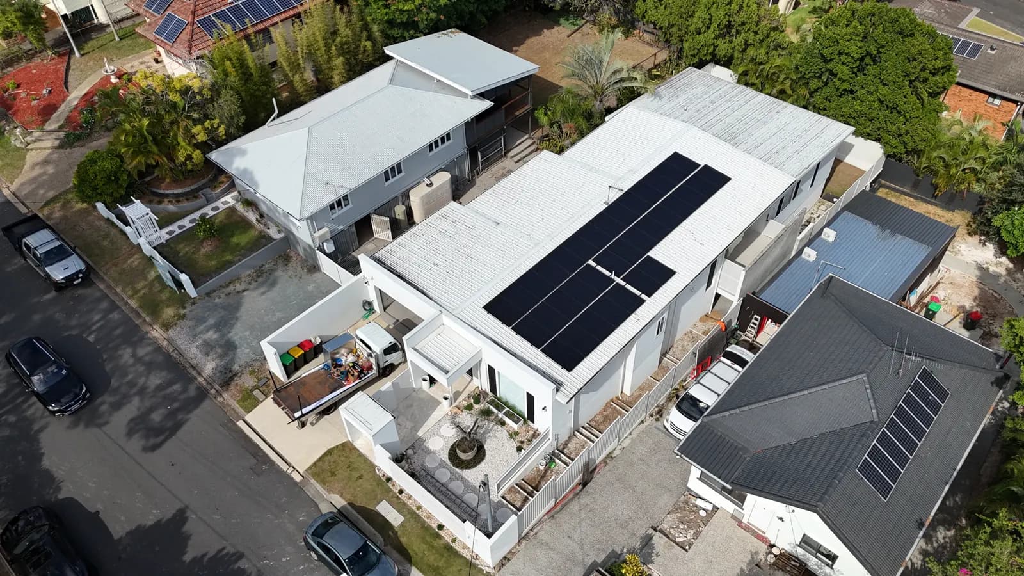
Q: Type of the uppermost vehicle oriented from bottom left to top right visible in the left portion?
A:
truck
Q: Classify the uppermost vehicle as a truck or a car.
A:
truck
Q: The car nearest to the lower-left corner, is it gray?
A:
No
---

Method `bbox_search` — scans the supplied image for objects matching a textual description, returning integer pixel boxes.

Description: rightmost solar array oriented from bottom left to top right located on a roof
[862,357,959,492]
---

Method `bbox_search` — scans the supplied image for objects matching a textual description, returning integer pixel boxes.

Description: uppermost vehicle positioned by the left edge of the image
[4,217,88,290]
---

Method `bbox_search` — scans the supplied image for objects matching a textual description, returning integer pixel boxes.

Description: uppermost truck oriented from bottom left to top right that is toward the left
[265,315,403,425]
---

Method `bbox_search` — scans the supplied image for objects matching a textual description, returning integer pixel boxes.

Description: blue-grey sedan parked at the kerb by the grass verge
[301,513,399,576]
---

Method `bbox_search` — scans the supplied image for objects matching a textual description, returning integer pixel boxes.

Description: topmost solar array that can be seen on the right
[920,27,984,59]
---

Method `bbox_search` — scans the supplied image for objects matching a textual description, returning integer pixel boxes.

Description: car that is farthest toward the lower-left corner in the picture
[1,507,90,576]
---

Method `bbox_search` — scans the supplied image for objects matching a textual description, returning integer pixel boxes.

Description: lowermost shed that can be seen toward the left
[337,390,402,457]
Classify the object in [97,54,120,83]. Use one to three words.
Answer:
fountain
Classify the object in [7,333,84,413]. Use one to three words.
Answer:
car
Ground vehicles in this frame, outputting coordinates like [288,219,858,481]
[7,333,84,413]
[4,217,88,290]
[665,346,751,440]
[301,513,399,576]
[1,507,90,576]
[265,315,403,425]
